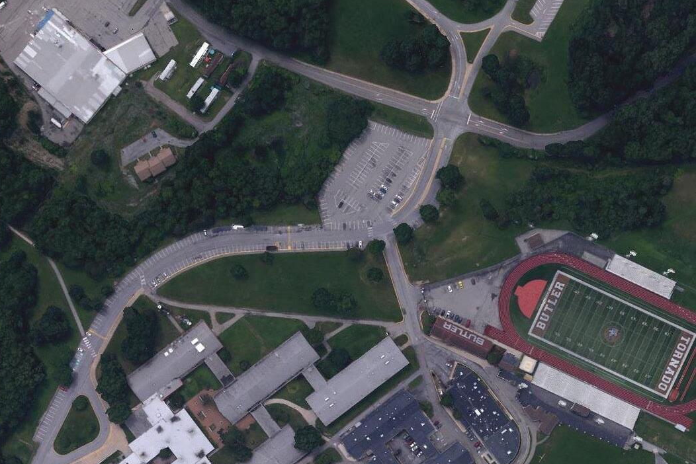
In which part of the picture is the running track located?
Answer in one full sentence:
You can find the running track in the bottom right area of the picture.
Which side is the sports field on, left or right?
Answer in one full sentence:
The sports field sits on the right side.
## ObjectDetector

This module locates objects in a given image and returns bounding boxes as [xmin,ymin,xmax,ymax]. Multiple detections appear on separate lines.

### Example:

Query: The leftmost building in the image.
[15,9,127,126]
